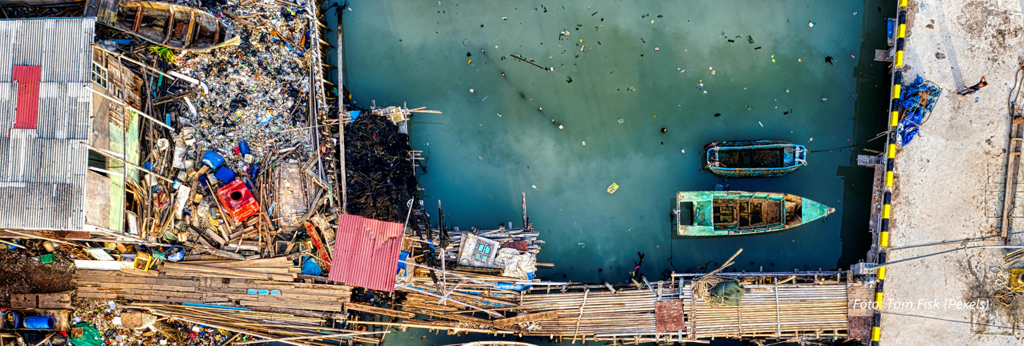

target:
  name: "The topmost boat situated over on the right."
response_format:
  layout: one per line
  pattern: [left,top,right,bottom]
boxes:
[704,138,807,179]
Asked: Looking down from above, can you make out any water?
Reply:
Yes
